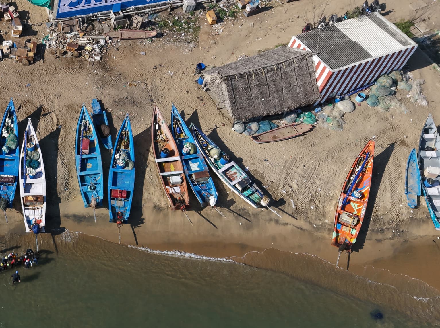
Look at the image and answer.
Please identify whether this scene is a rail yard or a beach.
beach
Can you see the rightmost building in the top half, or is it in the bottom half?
top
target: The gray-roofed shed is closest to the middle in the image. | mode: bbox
[200,44,329,122]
